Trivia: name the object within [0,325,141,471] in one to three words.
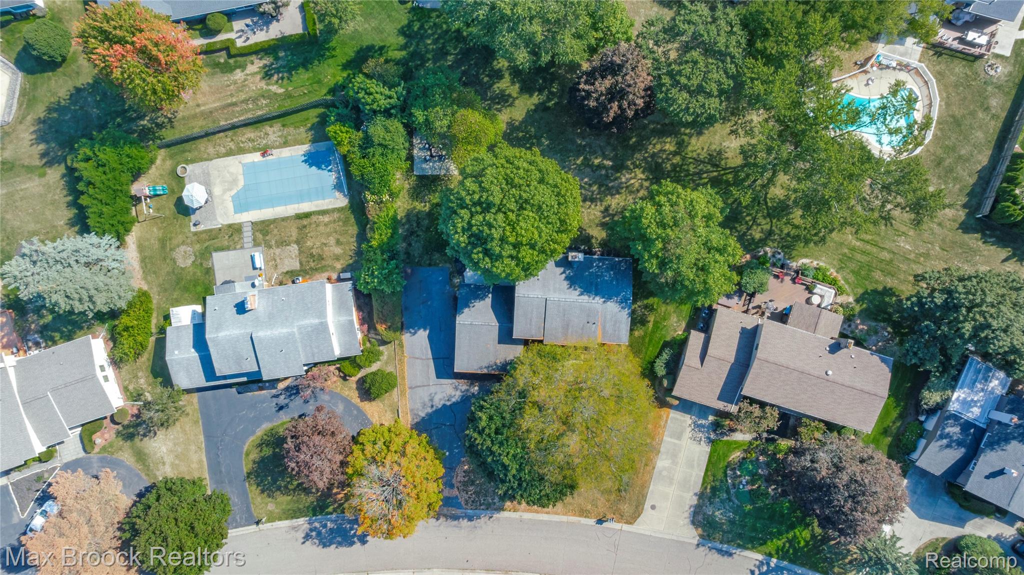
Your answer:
house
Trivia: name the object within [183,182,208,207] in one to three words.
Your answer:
umbrella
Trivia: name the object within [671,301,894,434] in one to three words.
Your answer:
house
